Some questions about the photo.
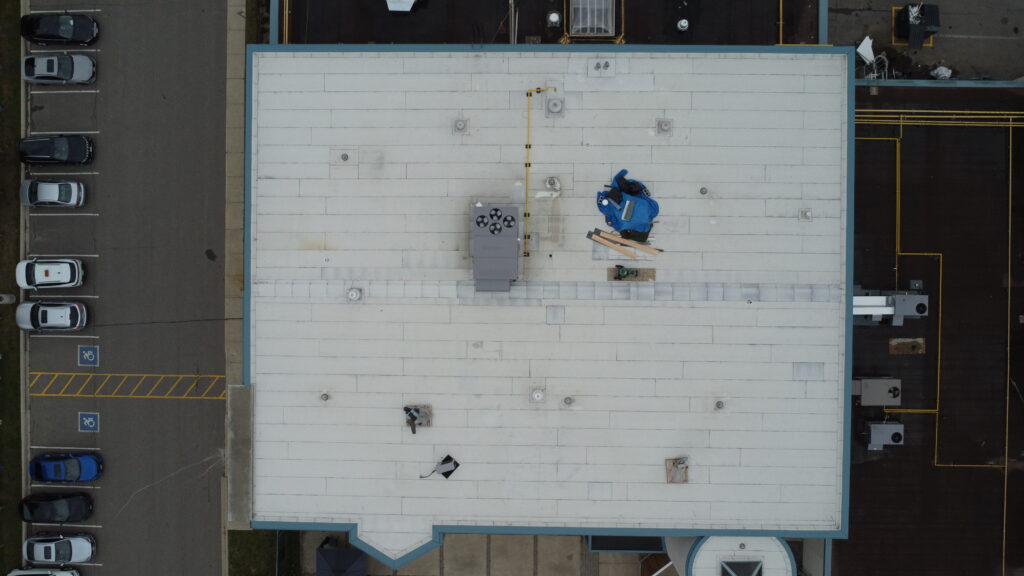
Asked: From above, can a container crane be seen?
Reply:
No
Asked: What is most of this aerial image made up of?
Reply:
buildings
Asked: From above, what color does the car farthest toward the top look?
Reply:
black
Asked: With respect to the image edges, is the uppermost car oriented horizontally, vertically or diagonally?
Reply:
horizontally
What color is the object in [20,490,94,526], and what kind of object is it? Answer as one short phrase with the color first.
black car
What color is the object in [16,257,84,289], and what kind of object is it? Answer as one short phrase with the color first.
white car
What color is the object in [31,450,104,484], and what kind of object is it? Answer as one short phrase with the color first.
blue car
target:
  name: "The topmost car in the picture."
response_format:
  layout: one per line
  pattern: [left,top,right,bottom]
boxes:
[20,11,98,48]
